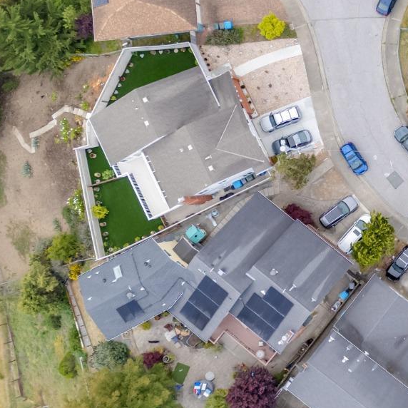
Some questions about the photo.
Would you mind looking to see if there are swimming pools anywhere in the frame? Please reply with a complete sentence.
No, no swimming pool is visible in the scene.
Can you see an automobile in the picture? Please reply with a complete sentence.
Yes, looking at the shot, I can spot an automobile.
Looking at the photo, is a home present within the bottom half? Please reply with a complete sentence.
Yes, looking within the bottom half, one can make out a home.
